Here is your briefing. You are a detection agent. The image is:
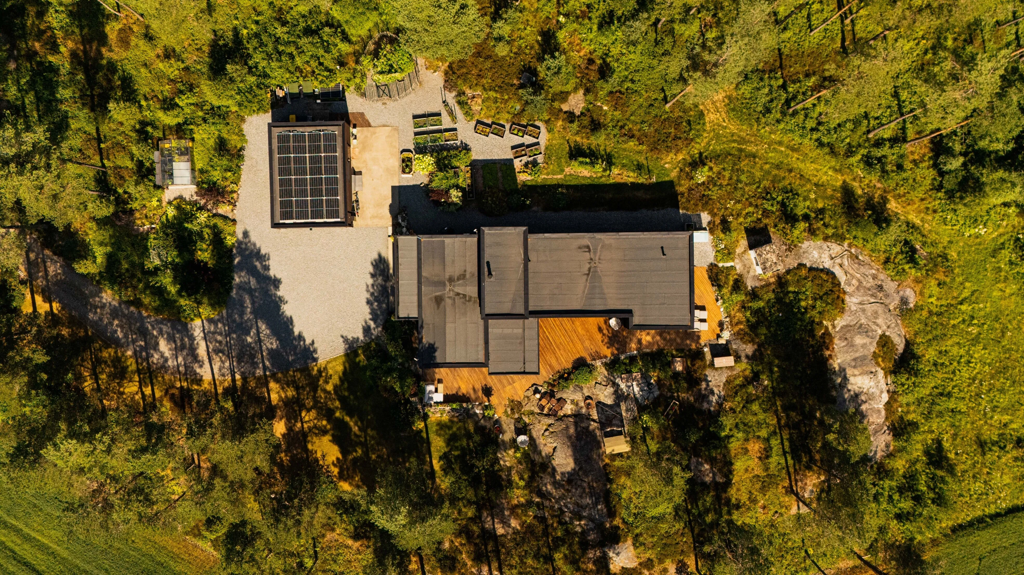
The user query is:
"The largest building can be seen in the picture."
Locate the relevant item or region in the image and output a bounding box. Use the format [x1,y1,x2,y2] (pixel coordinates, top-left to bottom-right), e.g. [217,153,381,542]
[395,225,694,375]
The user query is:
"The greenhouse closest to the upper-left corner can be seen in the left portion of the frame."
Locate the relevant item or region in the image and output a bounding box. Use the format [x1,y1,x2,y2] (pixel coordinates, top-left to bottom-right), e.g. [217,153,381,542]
[158,135,197,183]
